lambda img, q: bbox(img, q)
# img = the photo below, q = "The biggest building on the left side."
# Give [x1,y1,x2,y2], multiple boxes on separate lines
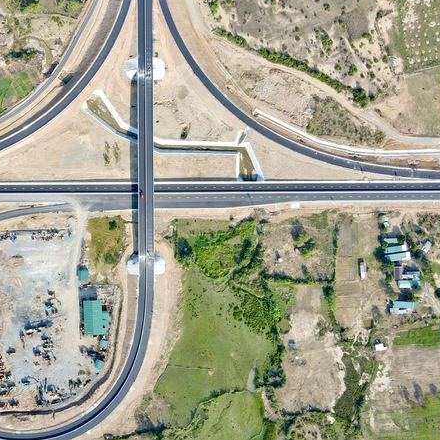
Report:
[83,299,102,336]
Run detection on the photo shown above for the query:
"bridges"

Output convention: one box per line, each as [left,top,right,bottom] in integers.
[137,0,153,259]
